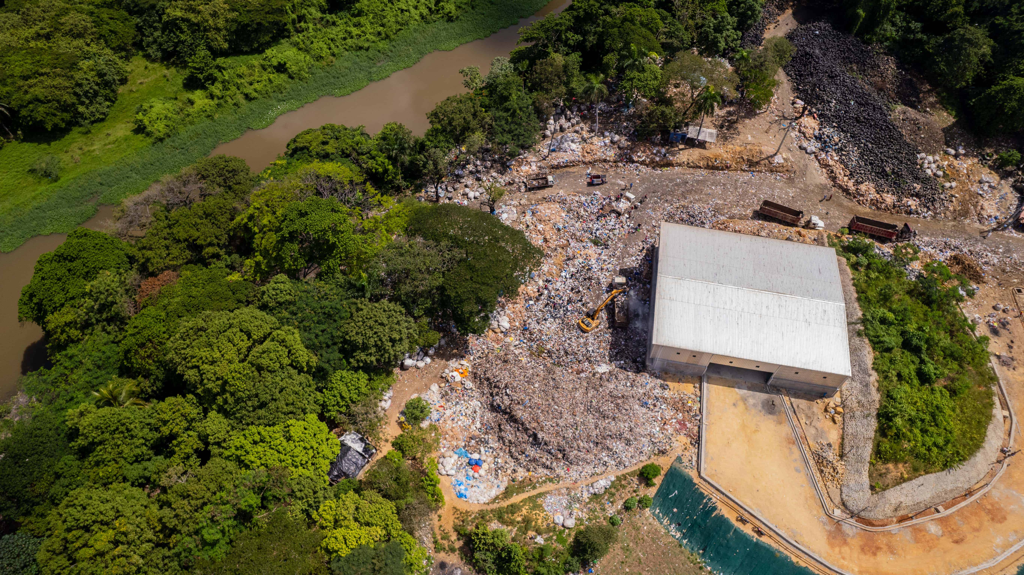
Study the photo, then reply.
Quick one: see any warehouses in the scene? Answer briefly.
Yes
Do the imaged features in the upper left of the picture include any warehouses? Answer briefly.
No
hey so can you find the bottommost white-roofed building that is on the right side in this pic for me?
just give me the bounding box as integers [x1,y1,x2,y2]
[647,222,852,396]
